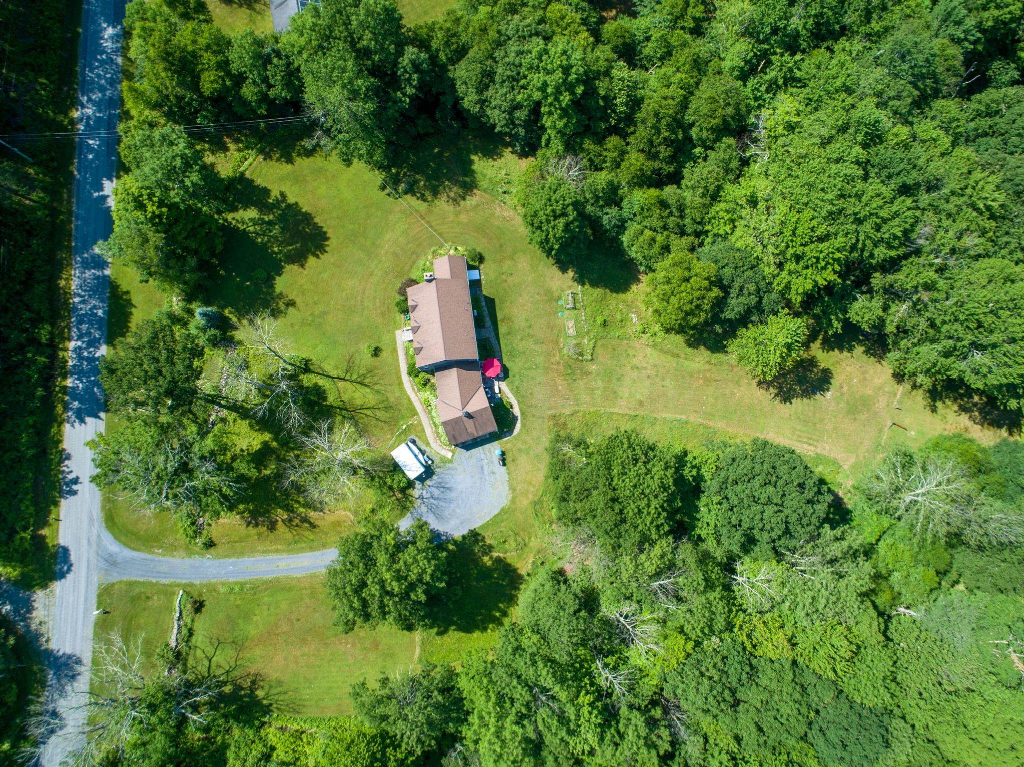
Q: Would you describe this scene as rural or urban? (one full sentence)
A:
It looks rural.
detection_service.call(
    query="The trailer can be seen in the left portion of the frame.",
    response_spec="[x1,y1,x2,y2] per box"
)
[390,443,426,480]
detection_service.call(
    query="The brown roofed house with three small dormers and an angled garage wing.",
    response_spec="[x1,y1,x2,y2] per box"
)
[407,255,498,446]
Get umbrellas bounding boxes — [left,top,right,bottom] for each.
[481,358,500,377]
